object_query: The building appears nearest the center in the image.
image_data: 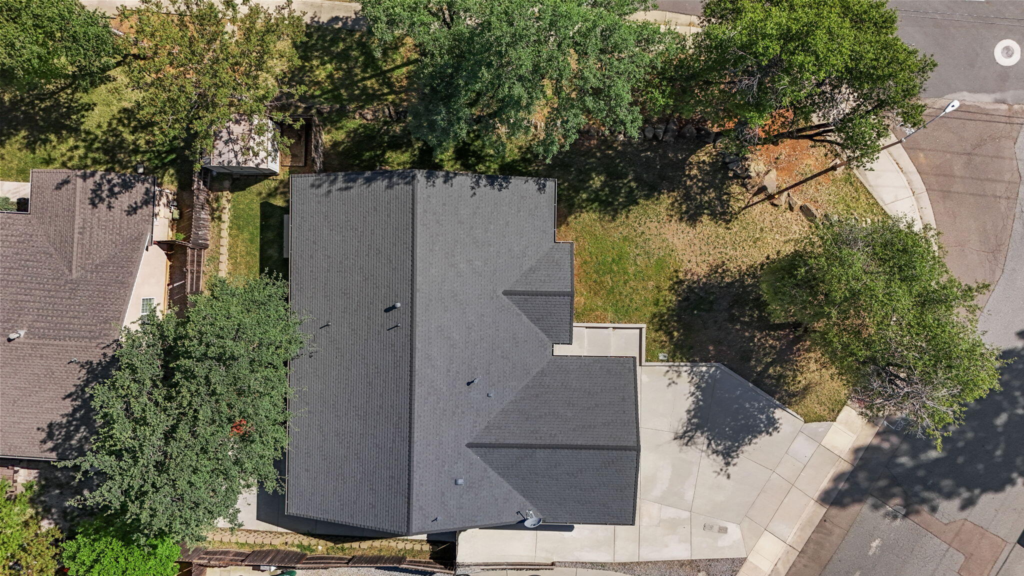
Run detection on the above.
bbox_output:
[283,168,642,536]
